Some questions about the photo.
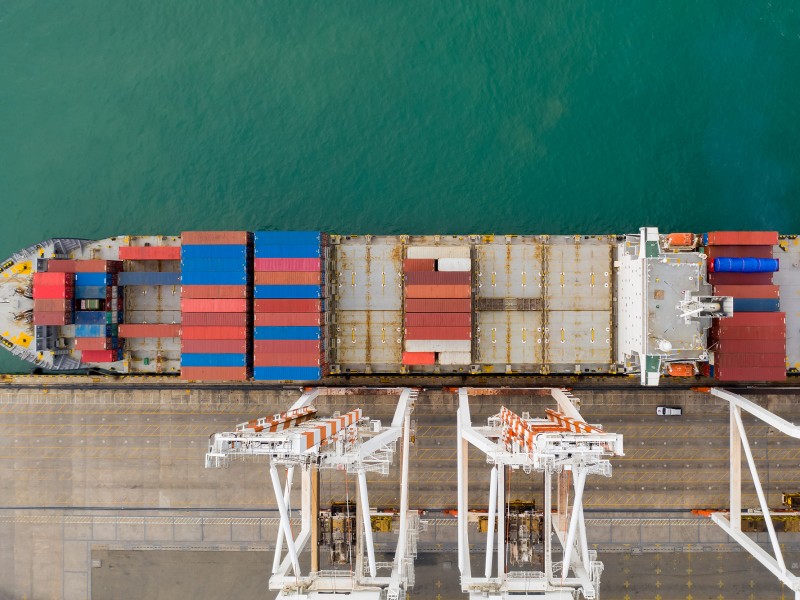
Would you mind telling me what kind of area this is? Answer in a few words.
port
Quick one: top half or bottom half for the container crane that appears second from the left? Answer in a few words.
bottom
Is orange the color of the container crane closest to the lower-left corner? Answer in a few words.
No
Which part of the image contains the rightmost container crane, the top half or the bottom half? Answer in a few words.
bottom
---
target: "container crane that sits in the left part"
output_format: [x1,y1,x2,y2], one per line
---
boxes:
[202,381,429,600]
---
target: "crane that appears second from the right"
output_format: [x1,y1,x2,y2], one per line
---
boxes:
[440,382,628,600]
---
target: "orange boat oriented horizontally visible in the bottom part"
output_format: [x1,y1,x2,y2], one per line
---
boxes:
[662,364,695,377]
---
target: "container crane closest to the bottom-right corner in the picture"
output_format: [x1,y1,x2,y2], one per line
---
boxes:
[695,383,800,600]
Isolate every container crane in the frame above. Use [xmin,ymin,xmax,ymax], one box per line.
[440,382,628,600]
[695,383,800,600]
[202,381,429,600]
